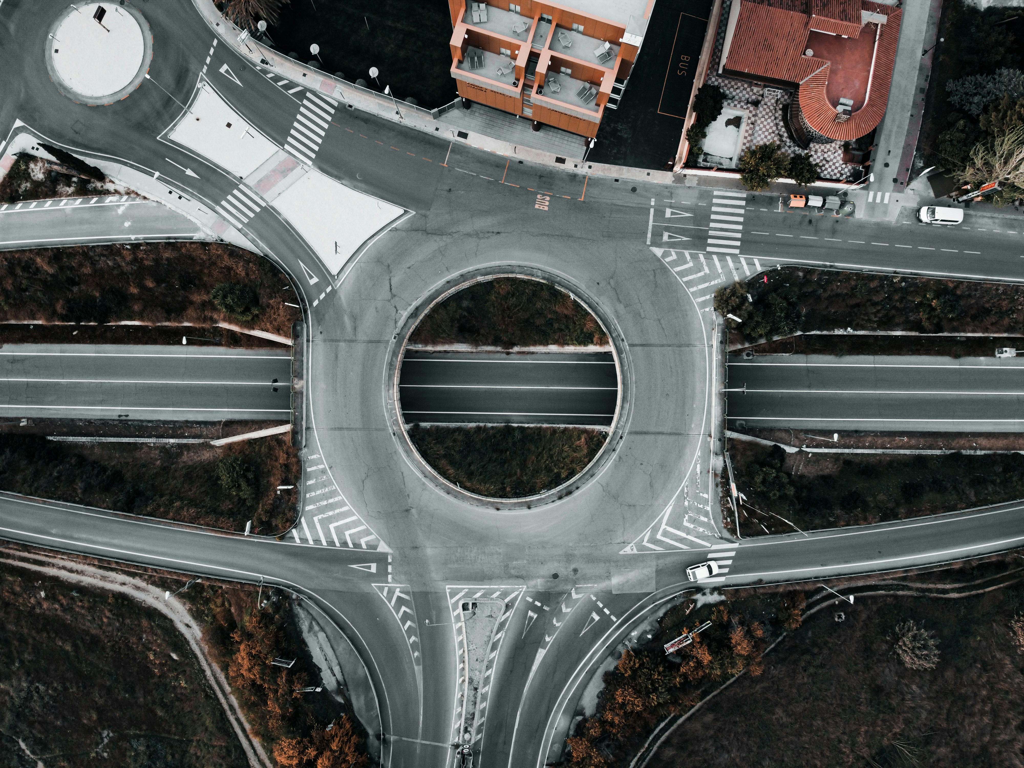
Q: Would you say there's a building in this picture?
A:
Yes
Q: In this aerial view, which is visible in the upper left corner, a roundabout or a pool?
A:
roundabout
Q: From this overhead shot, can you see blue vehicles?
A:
No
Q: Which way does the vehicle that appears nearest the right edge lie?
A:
from left to right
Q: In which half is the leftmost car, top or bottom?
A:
bottom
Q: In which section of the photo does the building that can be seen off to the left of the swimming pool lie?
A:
top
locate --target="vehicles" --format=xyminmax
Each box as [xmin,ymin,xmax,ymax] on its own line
[685,561,720,583]
[916,204,964,225]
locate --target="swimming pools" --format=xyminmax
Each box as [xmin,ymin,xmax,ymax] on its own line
[698,106,750,170]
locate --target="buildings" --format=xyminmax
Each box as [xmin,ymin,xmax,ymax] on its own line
[719,0,903,154]
[448,0,656,143]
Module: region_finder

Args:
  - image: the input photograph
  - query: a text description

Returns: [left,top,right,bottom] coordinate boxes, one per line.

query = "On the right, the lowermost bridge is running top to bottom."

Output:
[715,324,730,458]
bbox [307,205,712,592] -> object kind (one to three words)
roundabout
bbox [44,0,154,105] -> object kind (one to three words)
roundabout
